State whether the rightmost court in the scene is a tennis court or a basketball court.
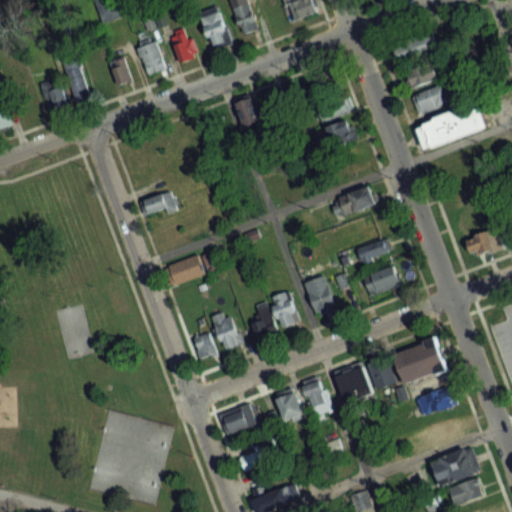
basketball court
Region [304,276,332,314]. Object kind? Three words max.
house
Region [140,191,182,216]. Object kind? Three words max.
house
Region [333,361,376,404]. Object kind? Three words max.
building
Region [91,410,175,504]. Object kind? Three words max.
basketball court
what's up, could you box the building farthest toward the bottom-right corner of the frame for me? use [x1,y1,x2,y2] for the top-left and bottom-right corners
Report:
[450,479,486,508]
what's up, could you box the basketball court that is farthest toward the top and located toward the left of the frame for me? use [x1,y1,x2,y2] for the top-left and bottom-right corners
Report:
[58,305,94,358]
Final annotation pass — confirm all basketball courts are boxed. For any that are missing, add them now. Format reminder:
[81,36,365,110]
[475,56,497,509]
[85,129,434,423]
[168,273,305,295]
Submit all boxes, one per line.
[91,410,175,504]
[58,305,94,358]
